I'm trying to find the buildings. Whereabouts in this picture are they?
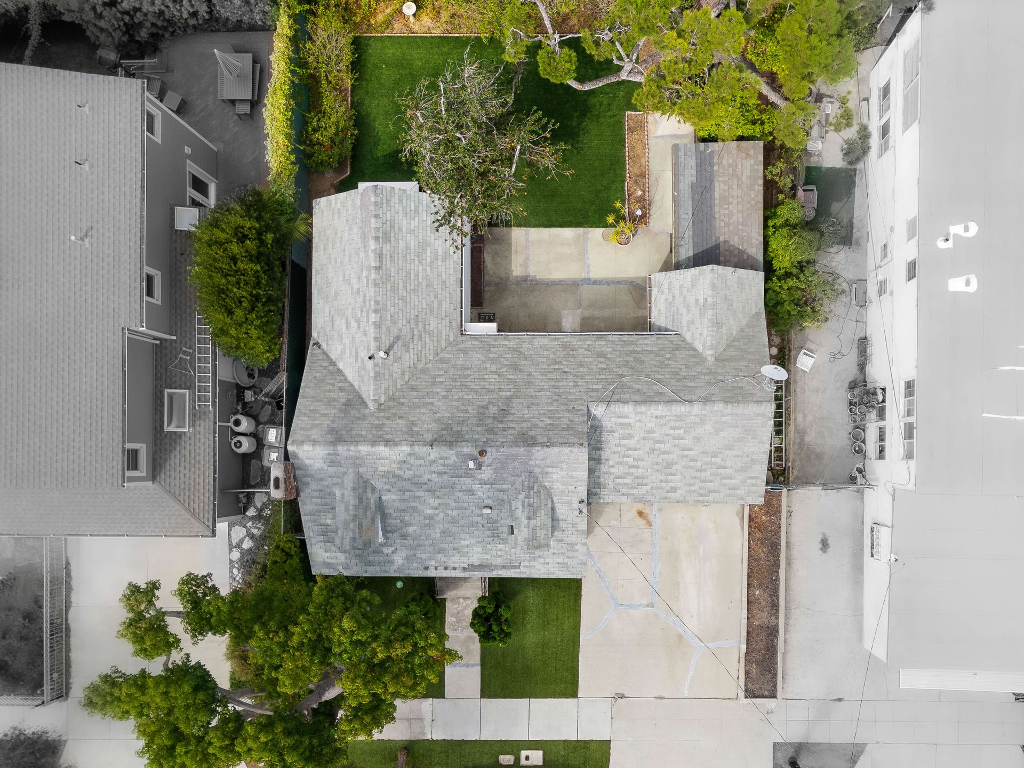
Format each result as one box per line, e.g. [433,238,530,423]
[864,1,1024,664]
[286,185,775,577]
[0,62,243,539]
